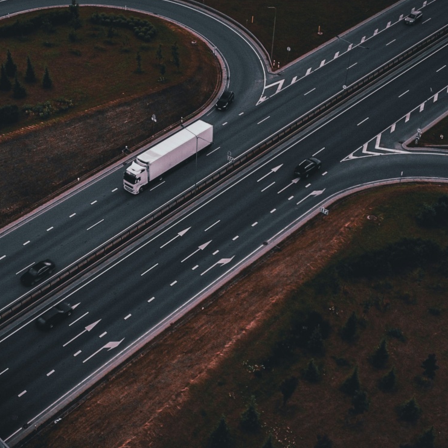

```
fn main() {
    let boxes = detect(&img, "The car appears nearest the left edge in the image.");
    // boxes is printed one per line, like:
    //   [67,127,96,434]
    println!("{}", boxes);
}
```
[15,255,53,282]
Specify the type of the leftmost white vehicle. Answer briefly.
truck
